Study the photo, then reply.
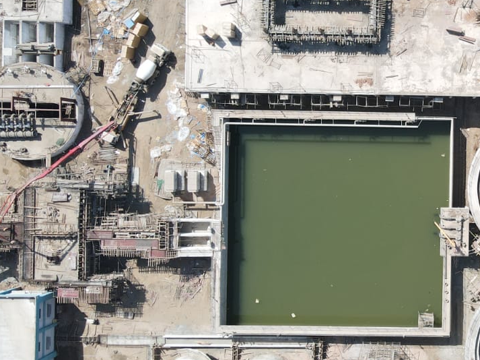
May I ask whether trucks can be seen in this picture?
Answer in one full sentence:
Yes, I can see a truck in this picture.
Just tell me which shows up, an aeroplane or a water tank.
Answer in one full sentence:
The one in the frame is a water tank.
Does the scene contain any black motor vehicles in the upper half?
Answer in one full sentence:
No, there's no black motor vehicle to be seen in the upper half.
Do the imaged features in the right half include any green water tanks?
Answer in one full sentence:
Yes, the scene does show a green water tank in the right half.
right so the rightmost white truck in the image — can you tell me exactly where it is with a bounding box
[127,38,167,88]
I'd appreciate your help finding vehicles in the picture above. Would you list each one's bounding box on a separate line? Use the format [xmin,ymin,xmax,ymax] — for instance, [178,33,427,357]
[0,84,162,242]
[127,38,167,88]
